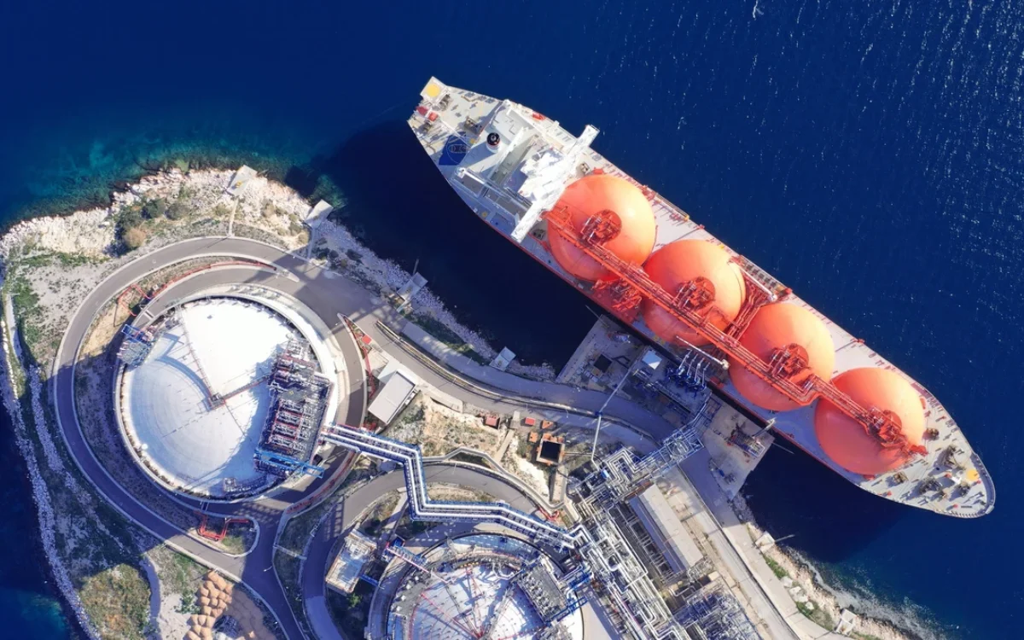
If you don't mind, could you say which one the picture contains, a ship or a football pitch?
ship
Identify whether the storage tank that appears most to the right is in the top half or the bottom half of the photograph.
bottom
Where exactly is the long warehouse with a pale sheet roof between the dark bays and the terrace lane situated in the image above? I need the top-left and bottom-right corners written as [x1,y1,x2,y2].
[624,480,706,576]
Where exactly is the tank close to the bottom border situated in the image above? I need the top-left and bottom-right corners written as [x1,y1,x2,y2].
[385,531,594,640]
